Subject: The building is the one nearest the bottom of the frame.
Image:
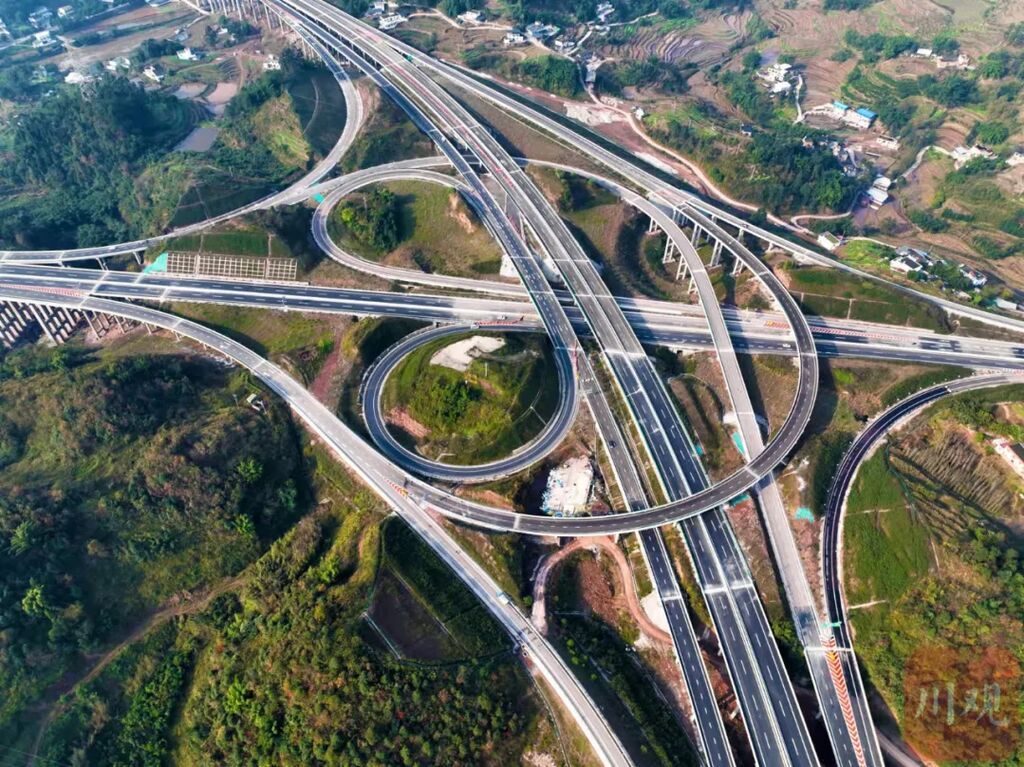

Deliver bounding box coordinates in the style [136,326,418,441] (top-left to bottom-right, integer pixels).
[994,434,1024,464]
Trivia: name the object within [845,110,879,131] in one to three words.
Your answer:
house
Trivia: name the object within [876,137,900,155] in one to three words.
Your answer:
house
